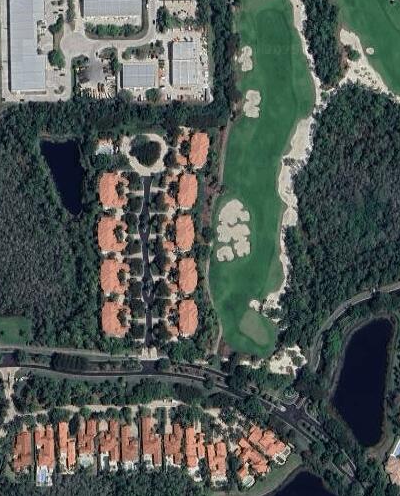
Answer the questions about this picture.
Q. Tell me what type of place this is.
residential area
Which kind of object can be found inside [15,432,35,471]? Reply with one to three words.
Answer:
house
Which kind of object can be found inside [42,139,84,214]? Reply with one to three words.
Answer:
pond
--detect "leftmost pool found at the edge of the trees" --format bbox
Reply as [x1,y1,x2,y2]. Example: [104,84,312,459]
[36,465,53,486]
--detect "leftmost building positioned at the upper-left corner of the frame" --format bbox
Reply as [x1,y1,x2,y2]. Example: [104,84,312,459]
[9,0,46,92]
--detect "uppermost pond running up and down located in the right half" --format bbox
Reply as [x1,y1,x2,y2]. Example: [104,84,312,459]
[333,315,395,445]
